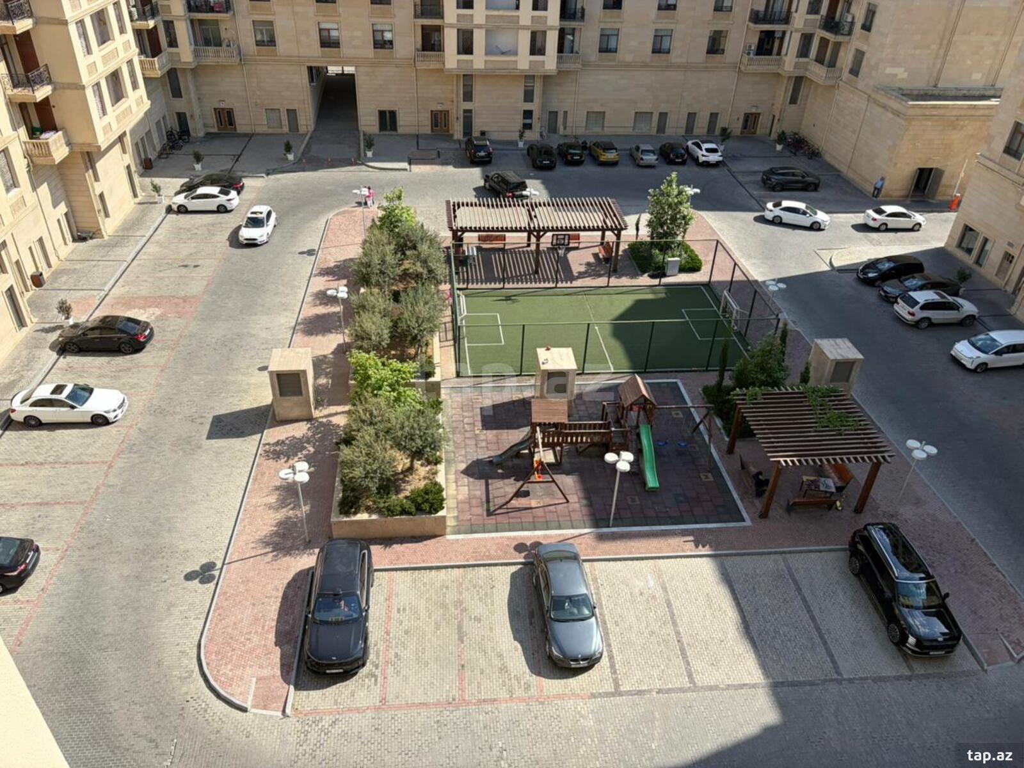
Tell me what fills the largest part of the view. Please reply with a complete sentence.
The bulk of the photo consists of paved ground.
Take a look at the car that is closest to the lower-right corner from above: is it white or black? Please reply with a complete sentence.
In this view, the car that is closest to the lower-right corner is black.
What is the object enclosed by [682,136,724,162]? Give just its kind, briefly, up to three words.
car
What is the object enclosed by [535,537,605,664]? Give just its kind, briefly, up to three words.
car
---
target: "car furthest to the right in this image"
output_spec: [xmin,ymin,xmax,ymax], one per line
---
[954,325,1024,367]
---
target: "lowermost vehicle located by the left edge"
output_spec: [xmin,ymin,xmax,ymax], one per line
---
[0,526,45,584]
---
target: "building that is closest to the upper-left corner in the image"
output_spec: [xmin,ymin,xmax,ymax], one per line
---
[0,0,175,357]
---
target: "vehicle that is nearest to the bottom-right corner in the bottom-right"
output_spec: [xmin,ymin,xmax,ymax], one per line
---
[849,519,968,655]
